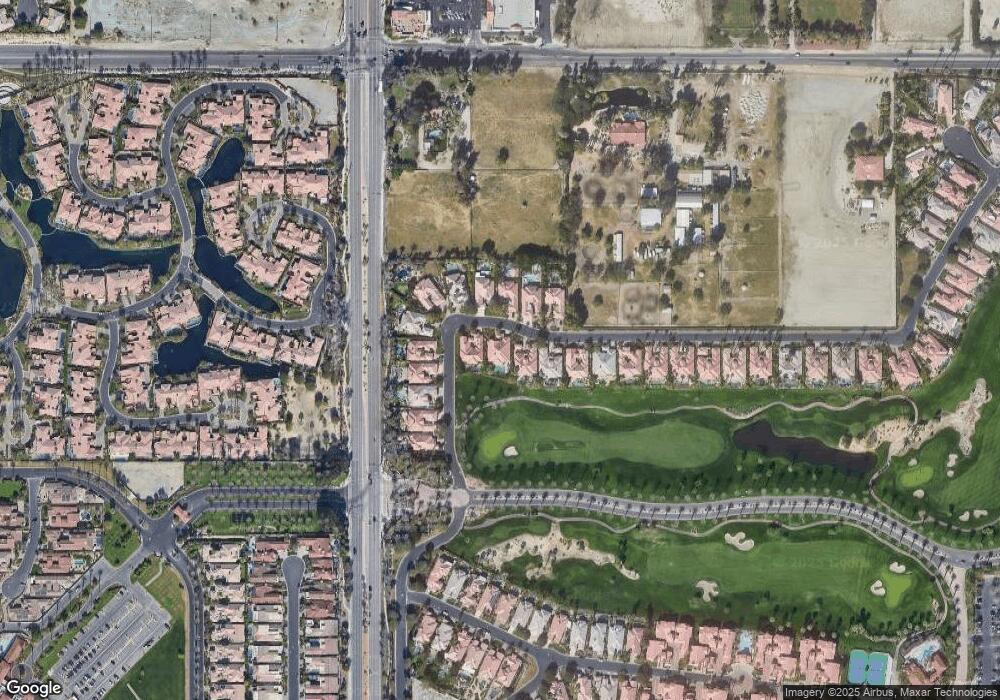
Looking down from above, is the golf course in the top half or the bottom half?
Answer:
bottom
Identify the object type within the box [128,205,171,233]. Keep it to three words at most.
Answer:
house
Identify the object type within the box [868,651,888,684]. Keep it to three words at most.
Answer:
tennis court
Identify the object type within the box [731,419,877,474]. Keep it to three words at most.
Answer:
pond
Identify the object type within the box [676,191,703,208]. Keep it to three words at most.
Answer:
barn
